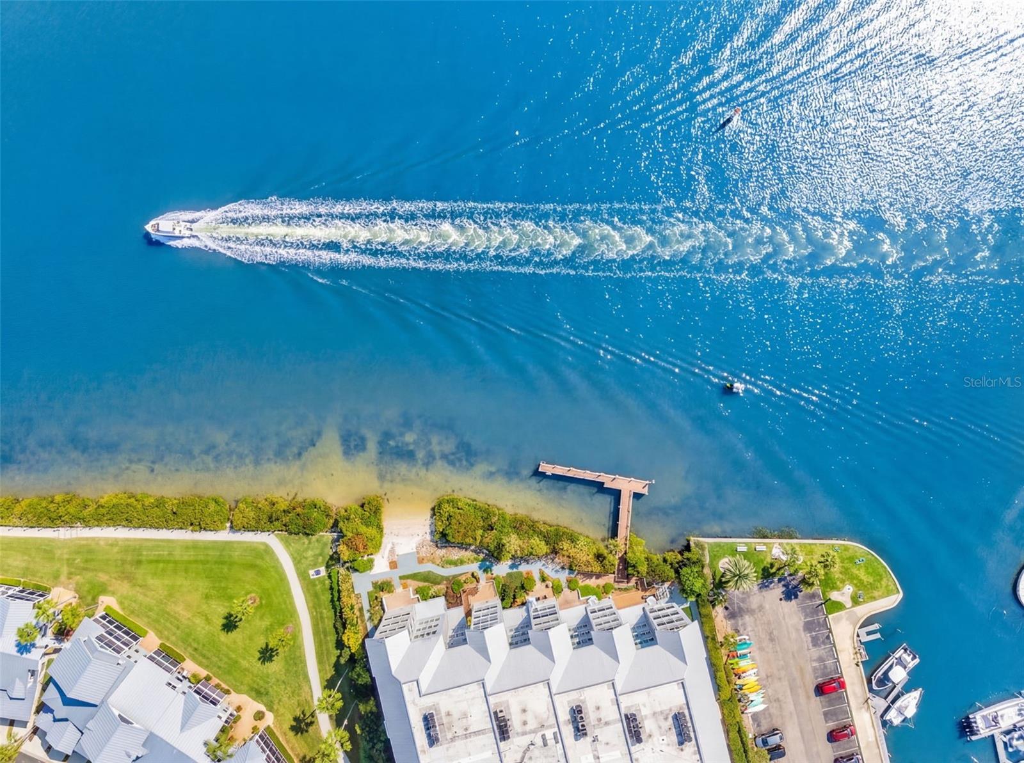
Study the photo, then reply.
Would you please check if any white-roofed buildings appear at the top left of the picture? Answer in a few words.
No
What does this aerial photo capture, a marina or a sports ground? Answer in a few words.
marina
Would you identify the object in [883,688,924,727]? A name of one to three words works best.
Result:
boat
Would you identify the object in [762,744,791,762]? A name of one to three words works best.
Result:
car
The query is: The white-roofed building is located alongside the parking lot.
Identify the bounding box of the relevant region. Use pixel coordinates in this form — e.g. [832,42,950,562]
[365,589,731,763]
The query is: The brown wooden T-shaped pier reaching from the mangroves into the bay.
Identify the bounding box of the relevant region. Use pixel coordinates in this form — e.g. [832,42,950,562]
[539,461,655,583]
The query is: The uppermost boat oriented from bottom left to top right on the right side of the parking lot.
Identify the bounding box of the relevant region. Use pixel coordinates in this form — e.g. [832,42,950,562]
[873,643,920,690]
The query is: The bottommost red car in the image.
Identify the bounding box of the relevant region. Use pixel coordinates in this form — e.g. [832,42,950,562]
[827,723,856,742]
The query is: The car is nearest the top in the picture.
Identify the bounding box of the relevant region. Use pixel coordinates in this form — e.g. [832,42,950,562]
[815,677,845,695]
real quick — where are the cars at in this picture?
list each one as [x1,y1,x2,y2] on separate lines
[834,750,864,763]
[754,729,784,748]
[815,677,845,695]
[762,744,791,762]
[827,723,856,742]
